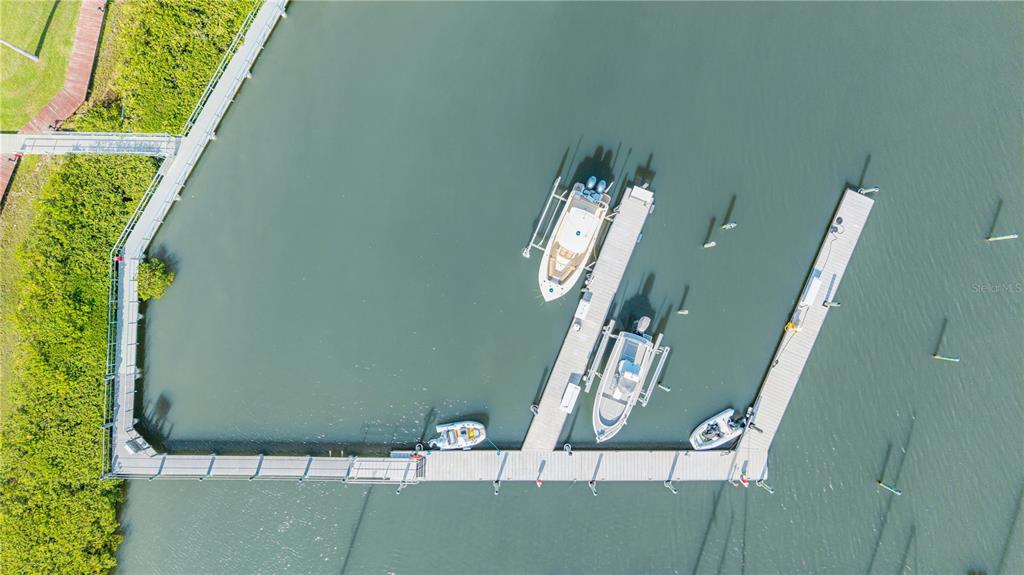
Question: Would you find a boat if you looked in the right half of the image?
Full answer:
Yes, a boat is visible in the right half of the image.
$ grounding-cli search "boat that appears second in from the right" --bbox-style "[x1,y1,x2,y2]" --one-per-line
[592,320,651,443]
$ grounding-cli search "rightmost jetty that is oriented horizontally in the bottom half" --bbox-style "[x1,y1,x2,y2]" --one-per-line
[389,442,766,489]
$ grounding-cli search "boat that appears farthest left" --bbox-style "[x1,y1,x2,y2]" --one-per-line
[419,422,488,449]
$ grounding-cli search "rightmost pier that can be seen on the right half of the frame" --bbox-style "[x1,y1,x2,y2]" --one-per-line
[735,185,875,482]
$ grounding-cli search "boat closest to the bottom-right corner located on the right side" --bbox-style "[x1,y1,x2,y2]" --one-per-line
[690,407,746,445]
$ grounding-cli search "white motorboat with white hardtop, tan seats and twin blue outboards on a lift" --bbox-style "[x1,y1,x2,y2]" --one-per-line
[540,178,610,302]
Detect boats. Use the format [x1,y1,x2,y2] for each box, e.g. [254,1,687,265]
[540,178,610,302]
[592,320,651,443]
[690,407,746,445]
[419,422,488,449]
